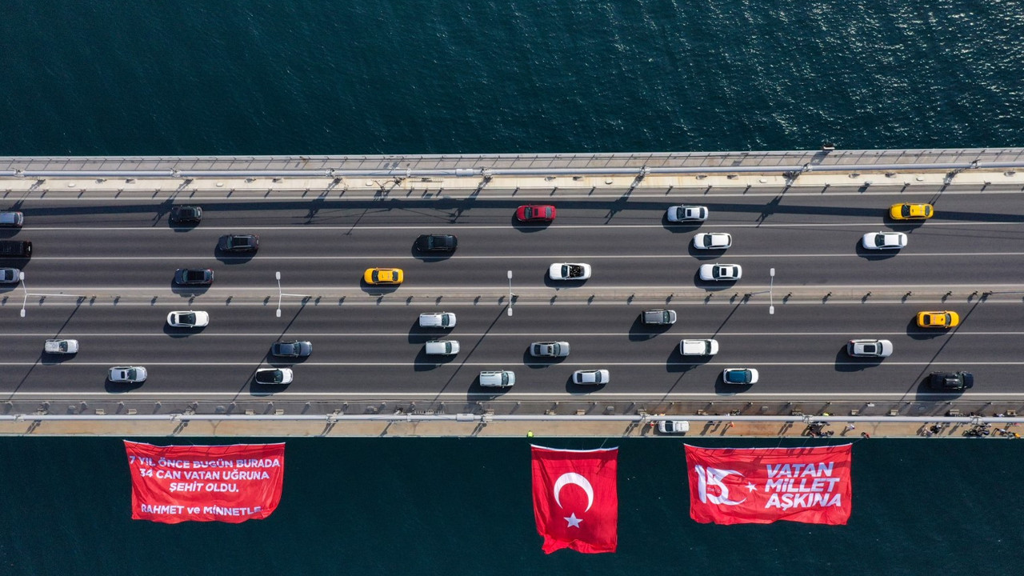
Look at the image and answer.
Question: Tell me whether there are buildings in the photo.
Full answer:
No, no building can be seen from above.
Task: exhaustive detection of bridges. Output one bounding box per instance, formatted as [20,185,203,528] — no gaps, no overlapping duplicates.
[0,148,1024,439]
